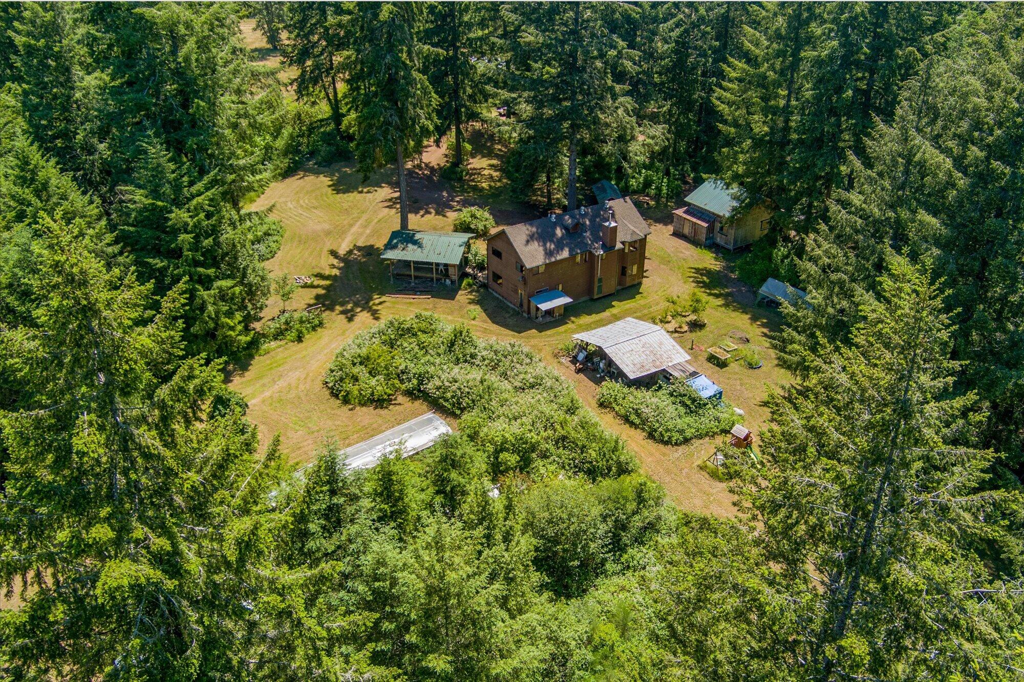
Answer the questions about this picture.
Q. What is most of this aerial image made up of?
trees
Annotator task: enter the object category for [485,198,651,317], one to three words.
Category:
house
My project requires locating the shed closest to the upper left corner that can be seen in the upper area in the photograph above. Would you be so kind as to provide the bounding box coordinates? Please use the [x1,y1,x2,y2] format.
[381,227,476,289]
